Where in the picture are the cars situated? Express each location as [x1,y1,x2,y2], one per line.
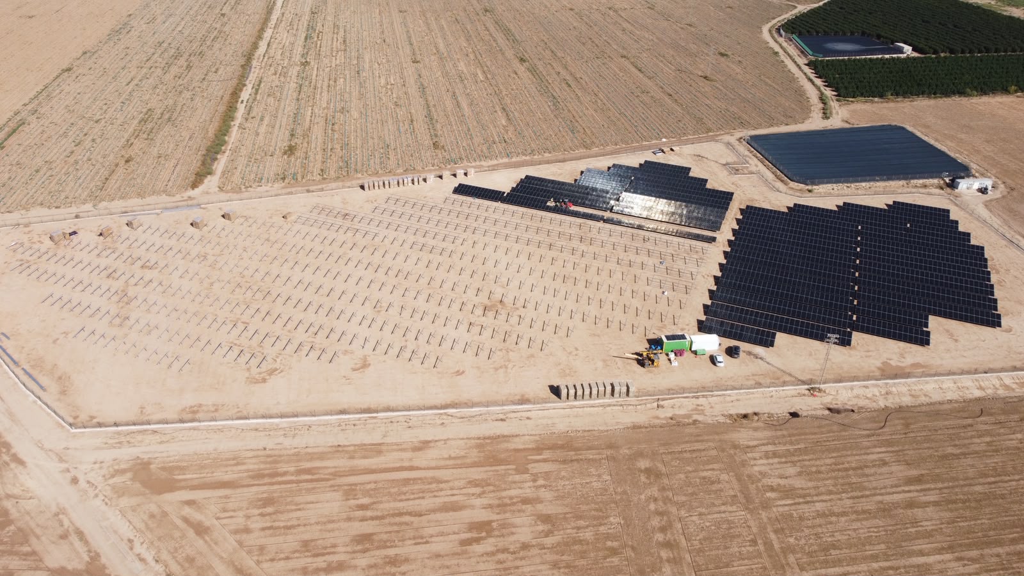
[730,342,742,359]
[711,352,724,367]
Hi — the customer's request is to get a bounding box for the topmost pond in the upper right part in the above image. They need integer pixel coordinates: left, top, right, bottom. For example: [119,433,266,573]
[789,35,907,61]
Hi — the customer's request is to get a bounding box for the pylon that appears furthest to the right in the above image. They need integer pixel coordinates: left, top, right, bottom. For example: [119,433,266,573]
[815,335,842,389]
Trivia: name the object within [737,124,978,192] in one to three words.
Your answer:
pond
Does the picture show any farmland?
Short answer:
Yes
